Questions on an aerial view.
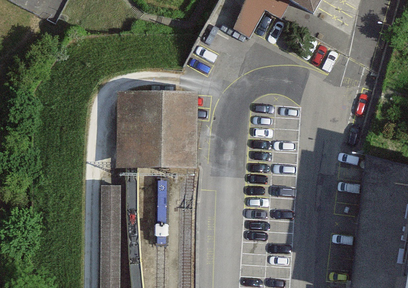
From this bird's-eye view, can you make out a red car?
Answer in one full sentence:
Yes, there's a red car down there.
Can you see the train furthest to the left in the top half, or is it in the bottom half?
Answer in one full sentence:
The train furthest to the left sits in the bottom half of the picture.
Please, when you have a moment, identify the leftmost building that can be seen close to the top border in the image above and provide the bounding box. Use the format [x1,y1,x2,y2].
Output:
[234,0,290,38]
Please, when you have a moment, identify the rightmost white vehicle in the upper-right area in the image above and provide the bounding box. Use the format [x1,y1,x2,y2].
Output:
[322,50,338,73]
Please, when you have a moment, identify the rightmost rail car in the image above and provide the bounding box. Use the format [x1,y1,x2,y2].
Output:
[154,176,168,248]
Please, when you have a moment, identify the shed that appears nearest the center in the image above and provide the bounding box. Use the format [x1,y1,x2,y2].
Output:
[116,91,198,168]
